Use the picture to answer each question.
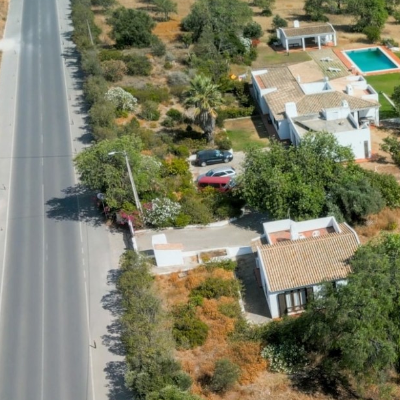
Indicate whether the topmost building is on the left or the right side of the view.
right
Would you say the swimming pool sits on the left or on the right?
right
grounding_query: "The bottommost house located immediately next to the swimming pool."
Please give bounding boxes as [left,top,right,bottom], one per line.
[252,65,385,159]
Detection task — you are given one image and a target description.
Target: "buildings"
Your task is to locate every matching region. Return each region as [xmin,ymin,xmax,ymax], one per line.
[255,215,361,322]
[155,234,182,265]
[252,65,385,159]
[269,19,340,53]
